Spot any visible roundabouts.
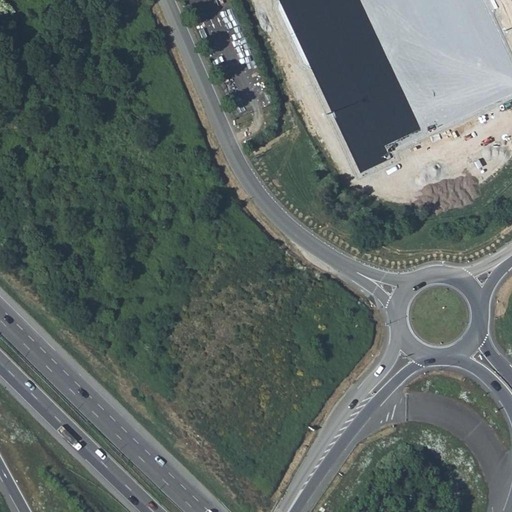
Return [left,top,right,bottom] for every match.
[385,266,490,367]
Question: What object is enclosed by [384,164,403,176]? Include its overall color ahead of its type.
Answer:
white vehicle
